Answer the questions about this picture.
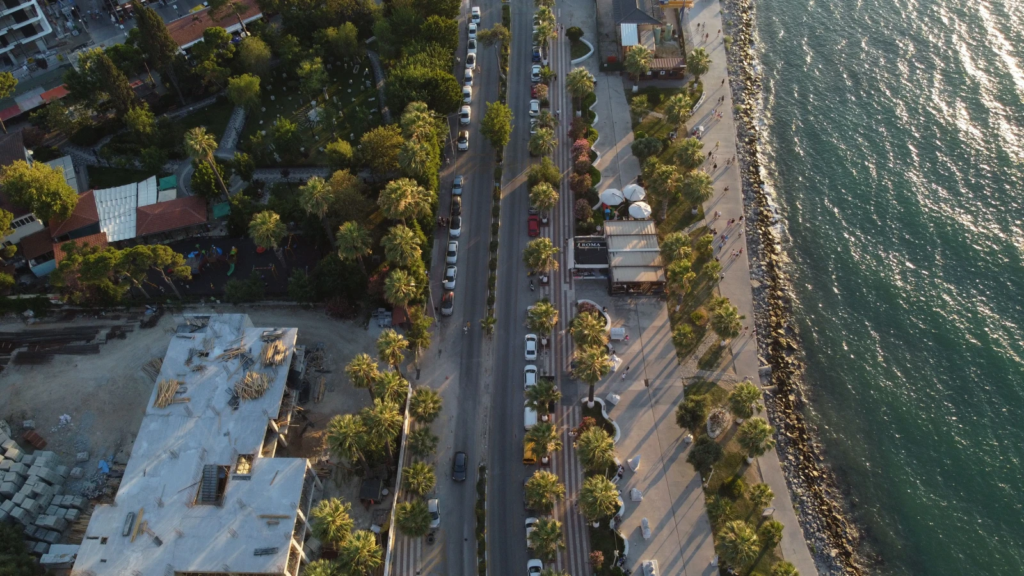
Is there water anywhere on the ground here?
Yes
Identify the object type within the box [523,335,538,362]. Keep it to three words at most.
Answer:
car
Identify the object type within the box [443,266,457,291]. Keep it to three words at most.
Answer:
car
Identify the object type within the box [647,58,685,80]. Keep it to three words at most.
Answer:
building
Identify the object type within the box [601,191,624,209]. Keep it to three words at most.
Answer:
umbrella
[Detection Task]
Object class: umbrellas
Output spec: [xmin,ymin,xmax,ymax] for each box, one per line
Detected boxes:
[627,203,651,221]
[622,186,645,215]
[601,191,624,209]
